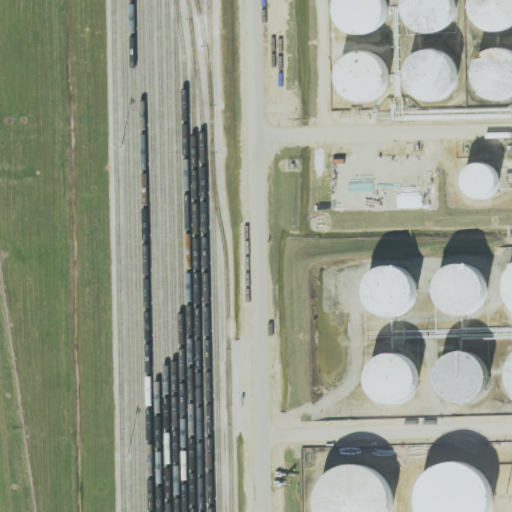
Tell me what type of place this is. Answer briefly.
industrial area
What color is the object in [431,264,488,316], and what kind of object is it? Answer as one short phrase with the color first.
white storage tank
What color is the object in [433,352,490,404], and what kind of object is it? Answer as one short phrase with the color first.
white storage tank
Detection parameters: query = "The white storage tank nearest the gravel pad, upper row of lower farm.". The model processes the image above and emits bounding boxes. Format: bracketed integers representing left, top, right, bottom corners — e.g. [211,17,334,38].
[360,264,418,318]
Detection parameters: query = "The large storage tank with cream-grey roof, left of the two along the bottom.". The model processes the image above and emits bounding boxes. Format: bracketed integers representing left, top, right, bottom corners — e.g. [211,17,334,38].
[311,464,392,512]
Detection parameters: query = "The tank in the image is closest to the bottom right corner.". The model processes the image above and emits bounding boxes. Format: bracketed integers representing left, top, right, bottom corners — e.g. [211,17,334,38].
[413,462,492,512]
